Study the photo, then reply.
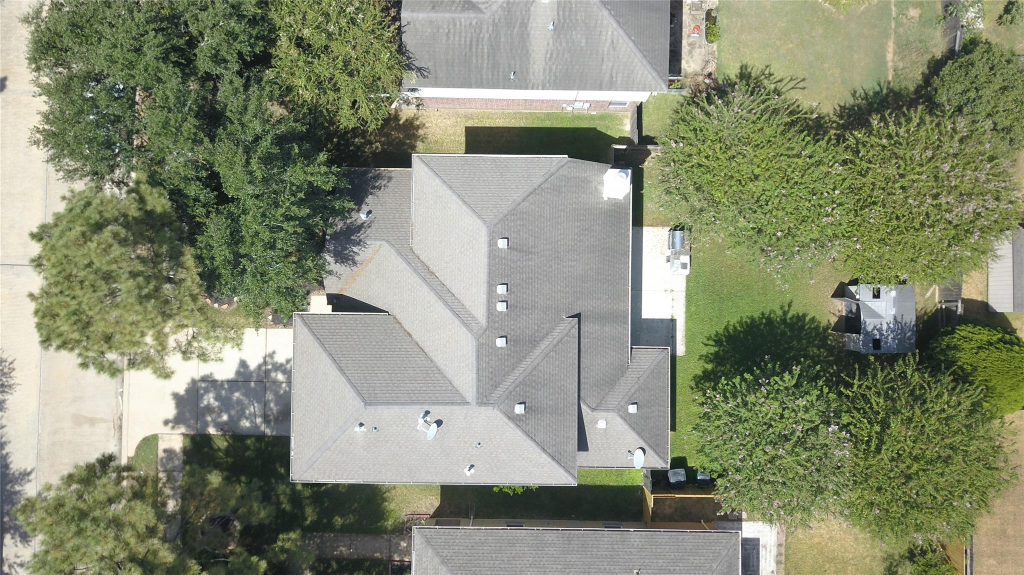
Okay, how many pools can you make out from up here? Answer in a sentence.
There are no pools in this view.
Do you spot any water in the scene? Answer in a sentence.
No, there is no water in the image.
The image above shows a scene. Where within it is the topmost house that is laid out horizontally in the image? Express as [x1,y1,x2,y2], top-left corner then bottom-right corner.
[398,0,671,114]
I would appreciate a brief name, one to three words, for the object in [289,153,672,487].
house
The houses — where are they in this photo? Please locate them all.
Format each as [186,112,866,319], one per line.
[289,153,672,487]
[410,512,744,575]
[398,0,671,114]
